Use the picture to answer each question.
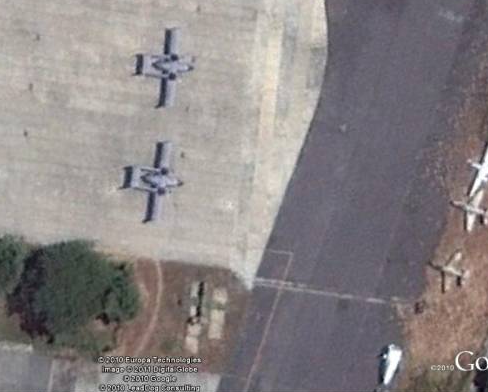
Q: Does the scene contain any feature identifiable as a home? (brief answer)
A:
No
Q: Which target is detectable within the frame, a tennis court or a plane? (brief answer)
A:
plane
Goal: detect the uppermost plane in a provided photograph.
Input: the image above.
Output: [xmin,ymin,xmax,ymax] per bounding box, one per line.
[141,29,194,106]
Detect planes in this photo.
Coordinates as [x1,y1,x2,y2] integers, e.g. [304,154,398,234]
[130,142,185,221]
[450,189,488,233]
[141,29,194,106]
[428,251,469,291]
[467,144,488,198]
